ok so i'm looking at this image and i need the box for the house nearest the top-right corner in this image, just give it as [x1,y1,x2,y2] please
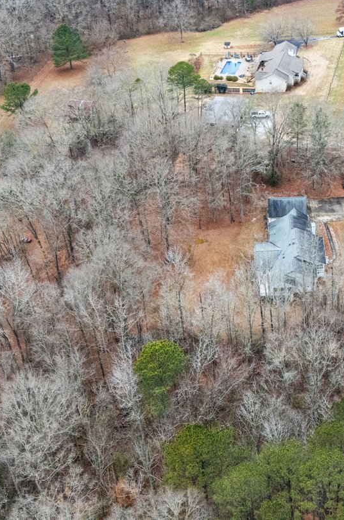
[255,38,315,90]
